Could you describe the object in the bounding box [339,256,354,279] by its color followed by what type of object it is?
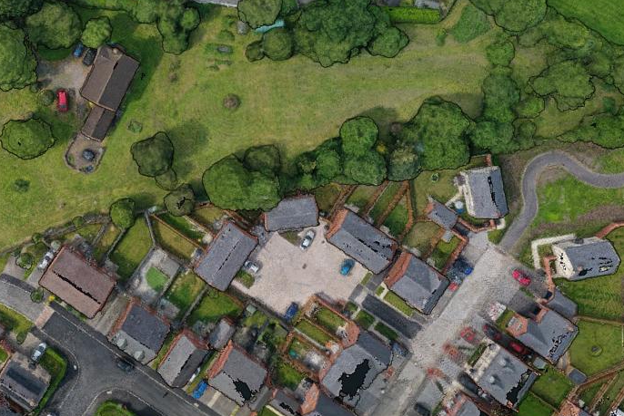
blue car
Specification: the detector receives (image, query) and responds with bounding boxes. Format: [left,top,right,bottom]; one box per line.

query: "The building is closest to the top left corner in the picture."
[81,44,141,140]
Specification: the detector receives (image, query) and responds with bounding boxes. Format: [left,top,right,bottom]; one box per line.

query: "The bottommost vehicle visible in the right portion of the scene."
[412,402,433,416]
